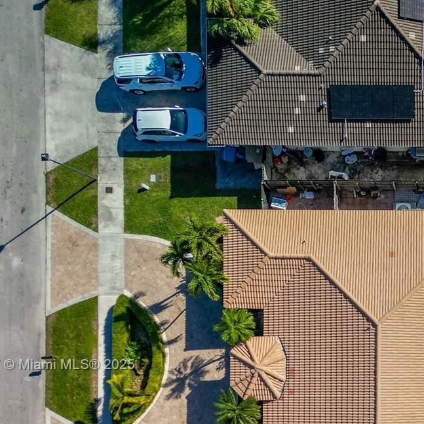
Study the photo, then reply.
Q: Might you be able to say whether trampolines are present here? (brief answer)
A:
No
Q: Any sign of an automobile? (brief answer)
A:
Yes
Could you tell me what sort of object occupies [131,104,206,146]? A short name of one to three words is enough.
car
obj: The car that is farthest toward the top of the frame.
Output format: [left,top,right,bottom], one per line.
[116,53,206,98]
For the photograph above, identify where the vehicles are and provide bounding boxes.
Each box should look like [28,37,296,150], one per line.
[116,53,206,98]
[131,104,206,146]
